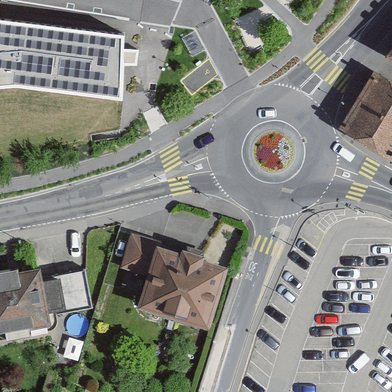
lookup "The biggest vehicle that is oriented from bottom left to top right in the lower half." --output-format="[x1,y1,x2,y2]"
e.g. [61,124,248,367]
[347,350,372,375]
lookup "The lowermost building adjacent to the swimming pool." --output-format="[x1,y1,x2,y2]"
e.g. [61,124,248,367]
[64,338,84,361]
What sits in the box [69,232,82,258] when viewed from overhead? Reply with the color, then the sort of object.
white vehicle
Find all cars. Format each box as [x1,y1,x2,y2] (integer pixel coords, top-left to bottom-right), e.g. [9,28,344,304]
[324,290,348,302]
[339,256,364,268]
[69,232,82,258]
[348,302,372,314]
[264,303,288,324]
[334,280,356,292]
[287,250,311,272]
[337,326,362,338]
[257,328,280,350]
[336,268,360,280]
[256,108,278,119]
[296,238,318,258]
[276,284,298,304]
[294,382,316,392]
[316,314,339,326]
[116,238,128,258]
[374,358,392,378]
[309,326,334,338]
[358,280,378,292]
[280,270,302,290]
[193,131,216,149]
[378,346,392,364]
[242,375,266,392]
[322,302,345,314]
[370,370,392,390]
[329,349,350,360]
[332,337,356,348]
[352,291,374,303]
[366,256,390,268]
[372,245,392,256]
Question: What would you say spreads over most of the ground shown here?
paved ground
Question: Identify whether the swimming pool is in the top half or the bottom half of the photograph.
bottom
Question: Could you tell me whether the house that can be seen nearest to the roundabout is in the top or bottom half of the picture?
top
